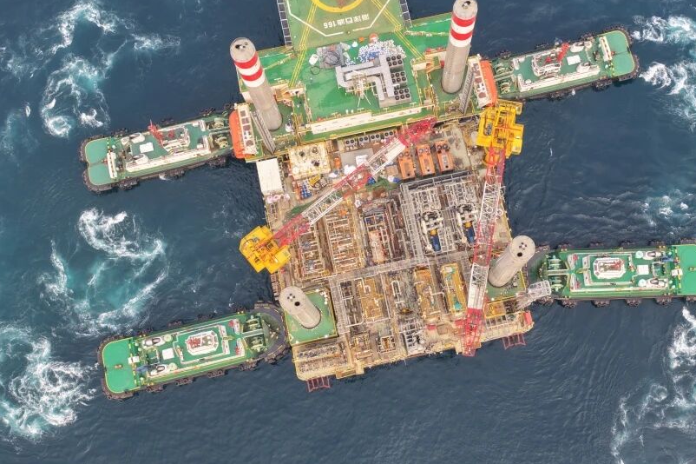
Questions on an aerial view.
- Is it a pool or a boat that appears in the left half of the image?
boat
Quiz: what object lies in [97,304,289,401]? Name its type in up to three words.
boat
